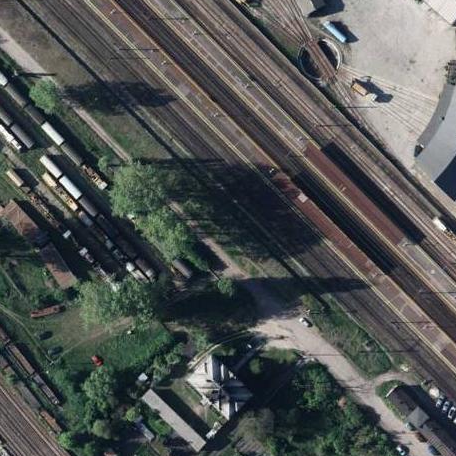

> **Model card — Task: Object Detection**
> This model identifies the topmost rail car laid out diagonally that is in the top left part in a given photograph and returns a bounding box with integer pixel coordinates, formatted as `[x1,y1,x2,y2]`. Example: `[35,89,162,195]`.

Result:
[5,84,30,109]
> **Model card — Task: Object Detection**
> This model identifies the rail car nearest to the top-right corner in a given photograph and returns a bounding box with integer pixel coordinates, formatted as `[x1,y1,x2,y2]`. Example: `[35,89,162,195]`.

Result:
[323,22,348,44]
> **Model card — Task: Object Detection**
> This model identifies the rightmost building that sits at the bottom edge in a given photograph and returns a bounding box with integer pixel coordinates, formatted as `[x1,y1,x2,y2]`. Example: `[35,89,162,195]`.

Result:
[386,384,456,456]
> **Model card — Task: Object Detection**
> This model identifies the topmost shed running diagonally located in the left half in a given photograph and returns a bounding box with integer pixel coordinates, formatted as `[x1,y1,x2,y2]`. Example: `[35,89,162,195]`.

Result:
[1,200,41,239]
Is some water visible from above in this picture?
No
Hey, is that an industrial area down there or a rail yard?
rail yard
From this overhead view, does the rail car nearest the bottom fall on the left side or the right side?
left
